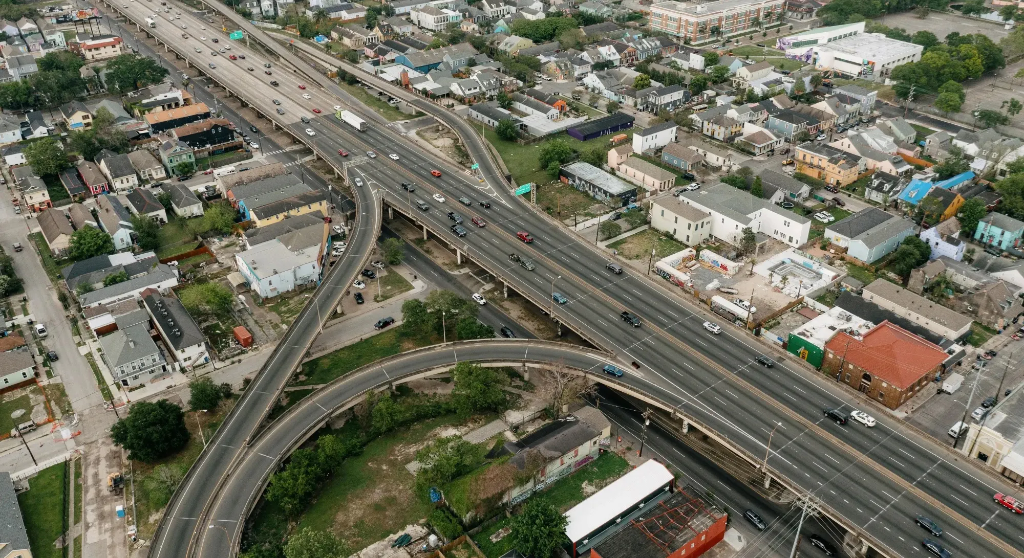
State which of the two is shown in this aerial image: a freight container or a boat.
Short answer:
freight container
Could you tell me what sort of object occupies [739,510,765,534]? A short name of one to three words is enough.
car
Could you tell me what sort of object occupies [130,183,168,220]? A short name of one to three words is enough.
house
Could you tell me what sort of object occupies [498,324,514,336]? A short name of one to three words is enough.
vehicle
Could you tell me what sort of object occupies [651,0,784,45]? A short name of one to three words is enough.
building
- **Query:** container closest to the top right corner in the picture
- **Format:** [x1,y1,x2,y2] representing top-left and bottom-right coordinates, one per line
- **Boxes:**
[699,255,739,280]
